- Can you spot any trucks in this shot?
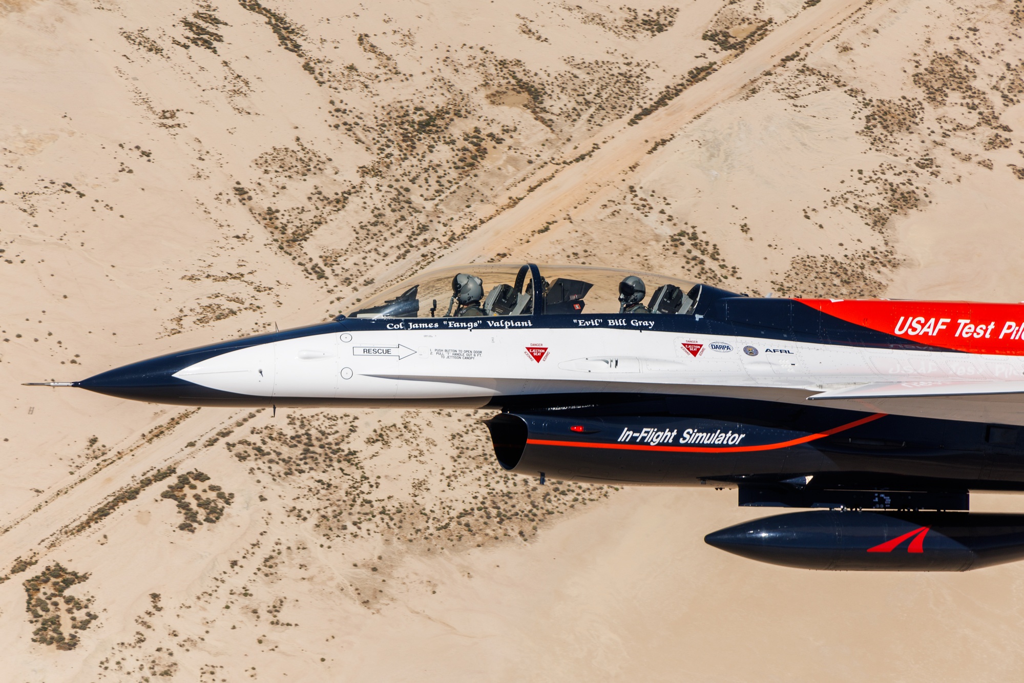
No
